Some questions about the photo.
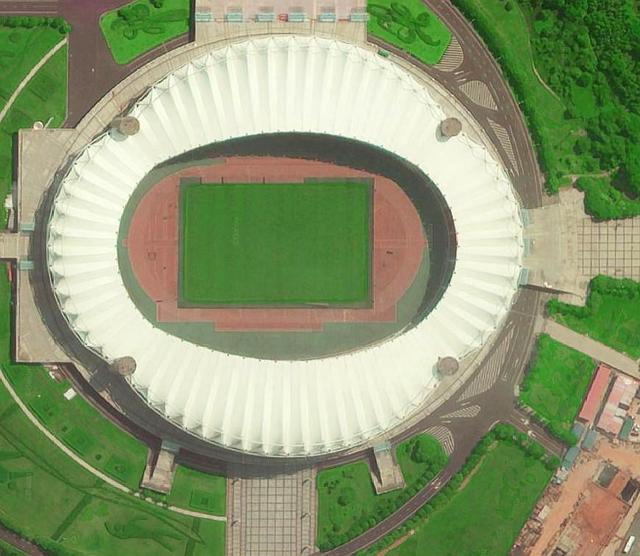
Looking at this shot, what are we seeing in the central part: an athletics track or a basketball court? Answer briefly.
athletics track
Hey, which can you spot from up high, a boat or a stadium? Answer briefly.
stadium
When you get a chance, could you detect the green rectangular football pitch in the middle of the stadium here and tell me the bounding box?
[178,177,374,309]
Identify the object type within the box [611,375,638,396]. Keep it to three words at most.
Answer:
shed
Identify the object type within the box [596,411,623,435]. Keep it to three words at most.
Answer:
shed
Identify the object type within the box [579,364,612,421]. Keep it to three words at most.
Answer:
building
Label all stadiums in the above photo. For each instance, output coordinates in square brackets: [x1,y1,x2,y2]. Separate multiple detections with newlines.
[47,34,523,456]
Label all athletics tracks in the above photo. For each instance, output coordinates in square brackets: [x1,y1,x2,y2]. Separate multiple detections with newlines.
[121,157,425,332]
